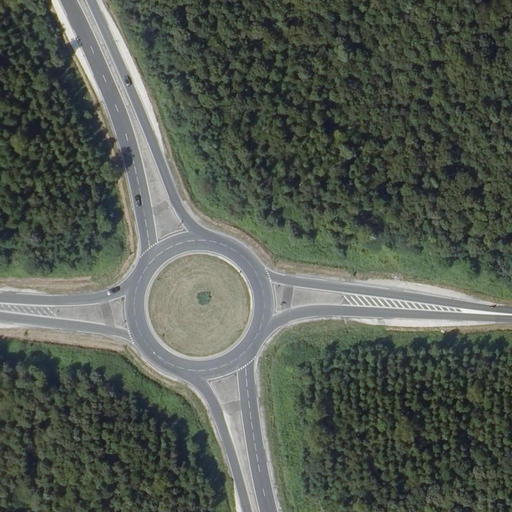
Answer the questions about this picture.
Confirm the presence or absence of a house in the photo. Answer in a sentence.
No, no house can be seen from above.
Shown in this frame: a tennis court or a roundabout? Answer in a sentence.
Looking from above, you can make out a roundabout.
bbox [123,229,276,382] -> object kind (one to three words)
roundabout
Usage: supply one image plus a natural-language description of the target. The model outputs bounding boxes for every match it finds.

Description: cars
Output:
[124,75,132,86]
[108,287,120,294]
[136,195,142,206]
